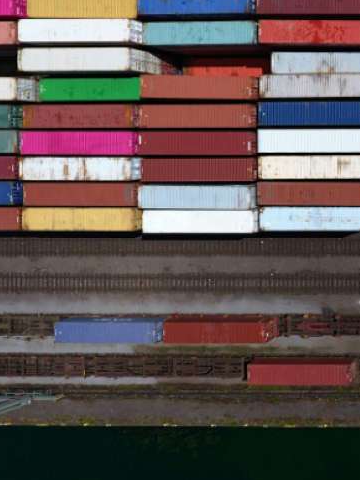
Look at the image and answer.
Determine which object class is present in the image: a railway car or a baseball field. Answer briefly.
railway car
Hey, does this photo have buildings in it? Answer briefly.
No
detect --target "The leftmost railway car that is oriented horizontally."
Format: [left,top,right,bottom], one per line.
[0,355,85,377]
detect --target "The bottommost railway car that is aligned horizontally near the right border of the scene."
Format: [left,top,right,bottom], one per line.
[243,356,357,375]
